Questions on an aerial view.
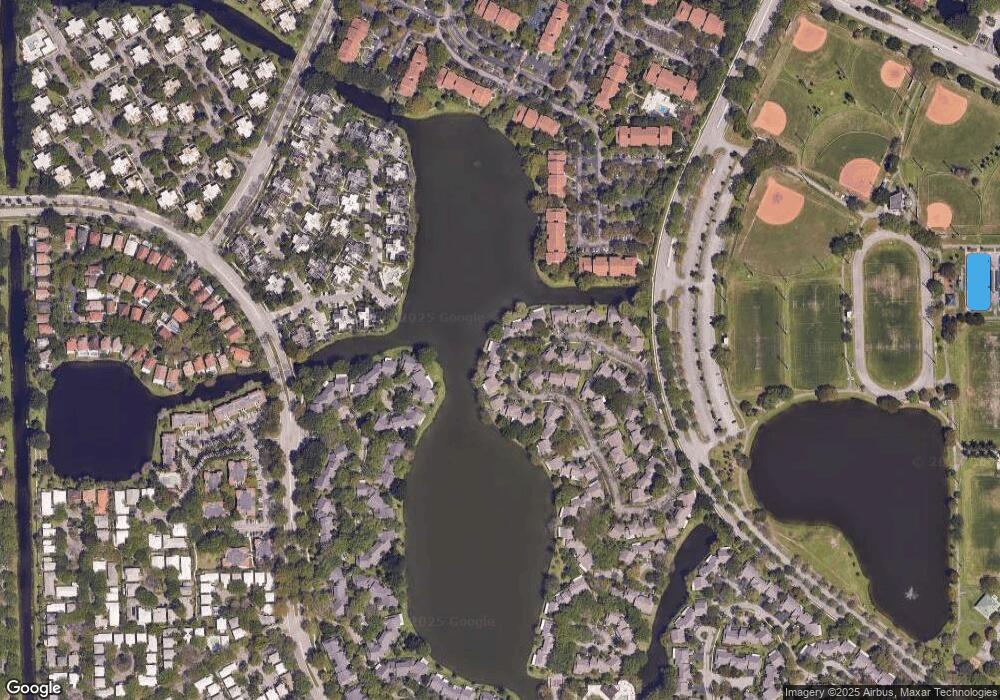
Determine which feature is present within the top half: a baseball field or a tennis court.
baseball field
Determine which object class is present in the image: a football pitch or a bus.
football pitch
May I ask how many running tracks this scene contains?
one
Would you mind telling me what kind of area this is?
residential area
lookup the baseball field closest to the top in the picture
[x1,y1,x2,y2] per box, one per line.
[782,8,852,70]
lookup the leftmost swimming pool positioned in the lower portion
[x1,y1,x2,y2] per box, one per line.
[159,472,181,489]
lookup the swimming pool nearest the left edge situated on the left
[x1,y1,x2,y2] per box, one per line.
[24,36,41,53]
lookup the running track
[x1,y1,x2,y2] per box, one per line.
[854,229,932,396]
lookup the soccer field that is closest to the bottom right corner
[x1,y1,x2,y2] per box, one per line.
[972,474,1000,580]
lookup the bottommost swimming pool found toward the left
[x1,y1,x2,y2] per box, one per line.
[208,636,221,652]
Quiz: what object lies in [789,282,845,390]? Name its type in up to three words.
soccer field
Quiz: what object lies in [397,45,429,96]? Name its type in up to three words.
building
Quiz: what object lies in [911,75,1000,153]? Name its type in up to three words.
baseball field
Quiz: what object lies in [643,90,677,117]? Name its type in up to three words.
swimming pool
